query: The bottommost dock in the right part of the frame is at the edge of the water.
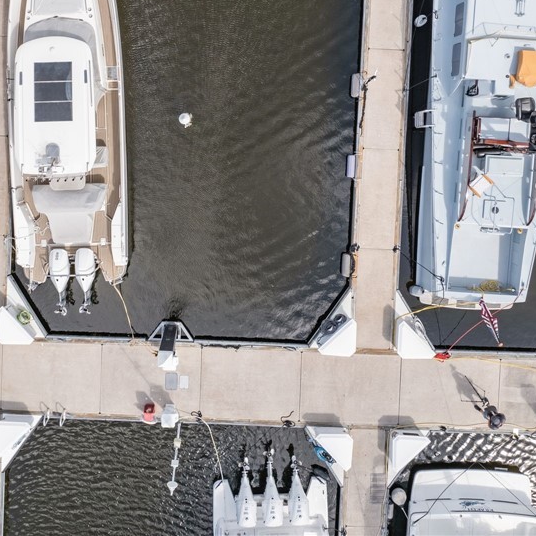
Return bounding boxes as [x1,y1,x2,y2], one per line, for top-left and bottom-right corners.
[333,430,391,536]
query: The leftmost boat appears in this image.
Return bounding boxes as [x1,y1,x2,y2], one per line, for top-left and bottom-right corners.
[8,0,130,318]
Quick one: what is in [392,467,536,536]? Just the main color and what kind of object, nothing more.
white boat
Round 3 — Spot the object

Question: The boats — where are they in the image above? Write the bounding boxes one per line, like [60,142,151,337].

[408,0,536,311]
[212,442,330,536]
[8,0,130,318]
[392,467,536,536]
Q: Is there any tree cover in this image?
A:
No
